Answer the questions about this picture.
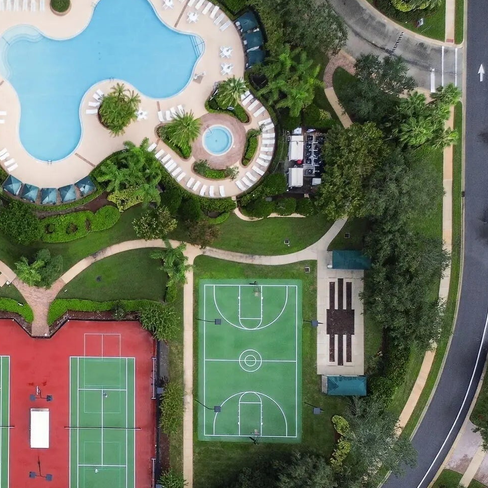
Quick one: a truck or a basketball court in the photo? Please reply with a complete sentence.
The image shows a basketball court.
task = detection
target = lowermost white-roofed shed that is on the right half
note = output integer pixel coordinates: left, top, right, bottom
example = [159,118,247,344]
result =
[284,168,302,189]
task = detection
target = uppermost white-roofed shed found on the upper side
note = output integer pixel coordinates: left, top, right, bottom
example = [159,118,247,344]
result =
[285,136,303,163]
